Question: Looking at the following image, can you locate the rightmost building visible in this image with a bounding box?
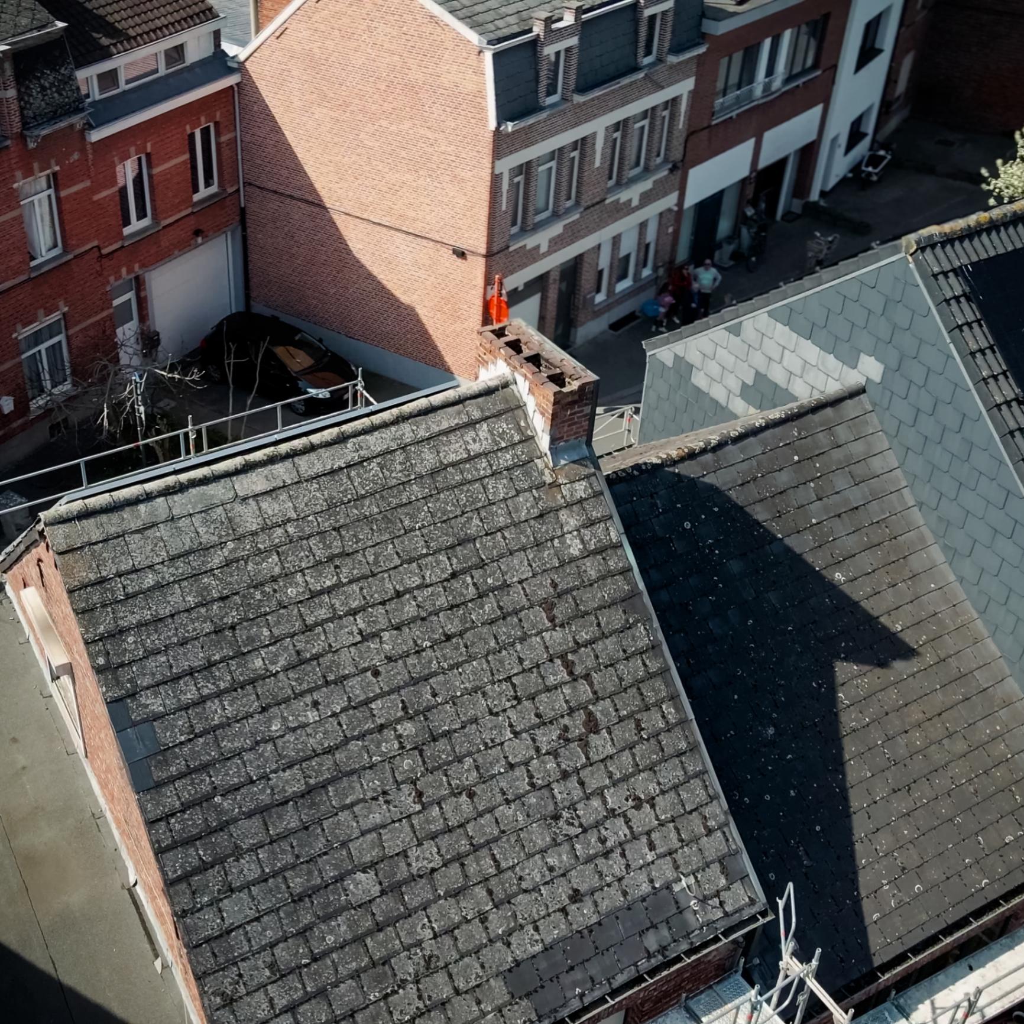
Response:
[903,0,1024,139]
